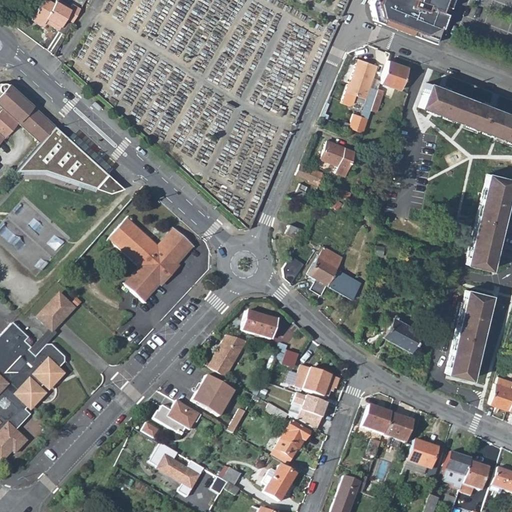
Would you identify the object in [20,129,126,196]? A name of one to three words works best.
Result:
building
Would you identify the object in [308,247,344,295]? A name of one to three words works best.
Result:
house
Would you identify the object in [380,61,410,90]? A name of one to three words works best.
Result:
house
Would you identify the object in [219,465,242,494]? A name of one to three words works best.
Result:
shed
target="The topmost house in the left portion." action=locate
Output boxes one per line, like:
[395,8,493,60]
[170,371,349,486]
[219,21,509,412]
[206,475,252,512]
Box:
[34,0,85,33]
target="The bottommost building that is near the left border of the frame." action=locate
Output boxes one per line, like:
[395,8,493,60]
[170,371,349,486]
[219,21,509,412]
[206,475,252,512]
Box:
[0,323,67,460]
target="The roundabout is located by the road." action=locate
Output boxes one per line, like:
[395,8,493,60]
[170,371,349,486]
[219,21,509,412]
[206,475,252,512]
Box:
[203,222,288,312]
